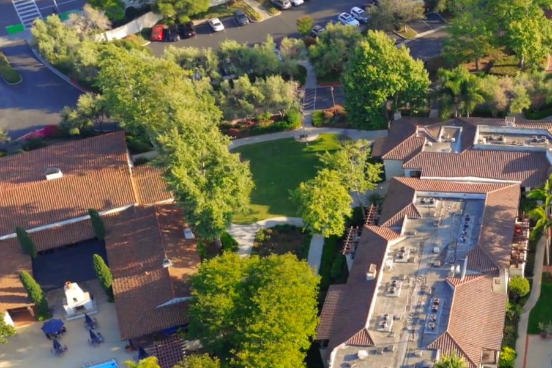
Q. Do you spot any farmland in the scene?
No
